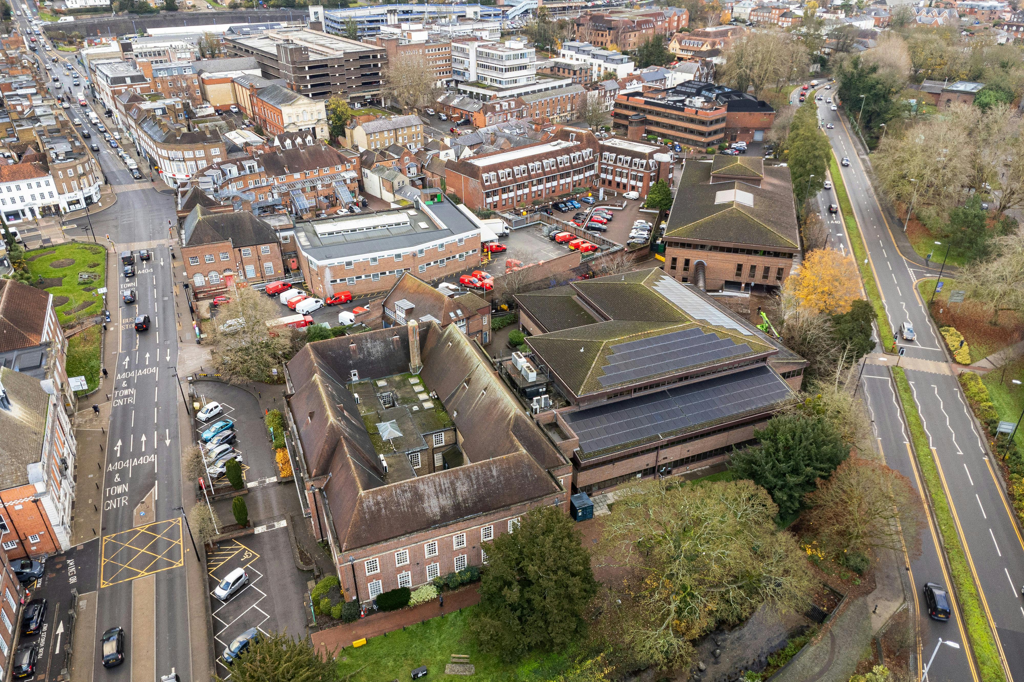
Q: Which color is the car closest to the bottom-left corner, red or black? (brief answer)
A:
black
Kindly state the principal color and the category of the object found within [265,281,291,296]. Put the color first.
red vehicle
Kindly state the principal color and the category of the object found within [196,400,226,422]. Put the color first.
white car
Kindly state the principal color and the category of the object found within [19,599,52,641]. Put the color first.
black car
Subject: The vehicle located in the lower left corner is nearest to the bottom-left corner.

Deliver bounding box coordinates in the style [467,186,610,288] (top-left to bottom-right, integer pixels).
[13,642,41,682]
